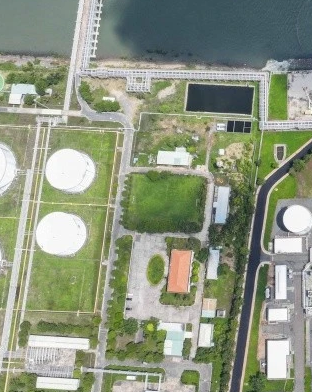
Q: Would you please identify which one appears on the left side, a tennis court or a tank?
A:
tank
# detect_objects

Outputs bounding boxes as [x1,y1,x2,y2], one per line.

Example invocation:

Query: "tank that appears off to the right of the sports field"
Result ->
[283,203,312,237]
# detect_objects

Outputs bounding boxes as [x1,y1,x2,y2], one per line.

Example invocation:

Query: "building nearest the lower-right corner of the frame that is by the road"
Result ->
[267,339,290,379]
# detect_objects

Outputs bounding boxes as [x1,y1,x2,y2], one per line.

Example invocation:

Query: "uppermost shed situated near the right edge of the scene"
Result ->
[274,238,303,253]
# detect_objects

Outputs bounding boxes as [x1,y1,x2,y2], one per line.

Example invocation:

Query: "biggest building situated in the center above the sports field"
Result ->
[157,152,194,167]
